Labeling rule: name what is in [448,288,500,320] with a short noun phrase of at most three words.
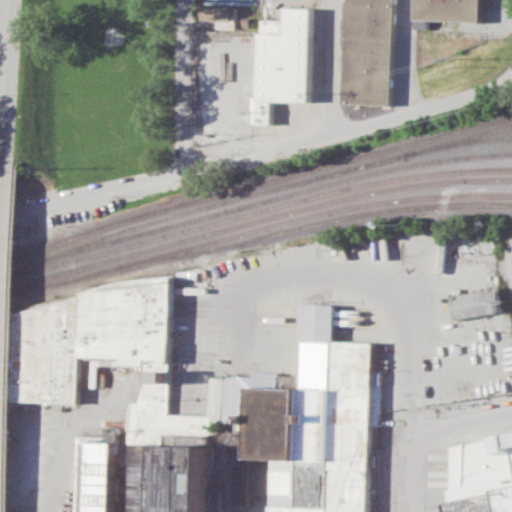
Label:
shed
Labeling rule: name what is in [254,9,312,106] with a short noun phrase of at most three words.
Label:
building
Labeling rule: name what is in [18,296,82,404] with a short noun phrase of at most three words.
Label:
building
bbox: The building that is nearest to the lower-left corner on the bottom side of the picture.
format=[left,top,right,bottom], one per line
[74,434,113,512]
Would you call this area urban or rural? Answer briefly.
urban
